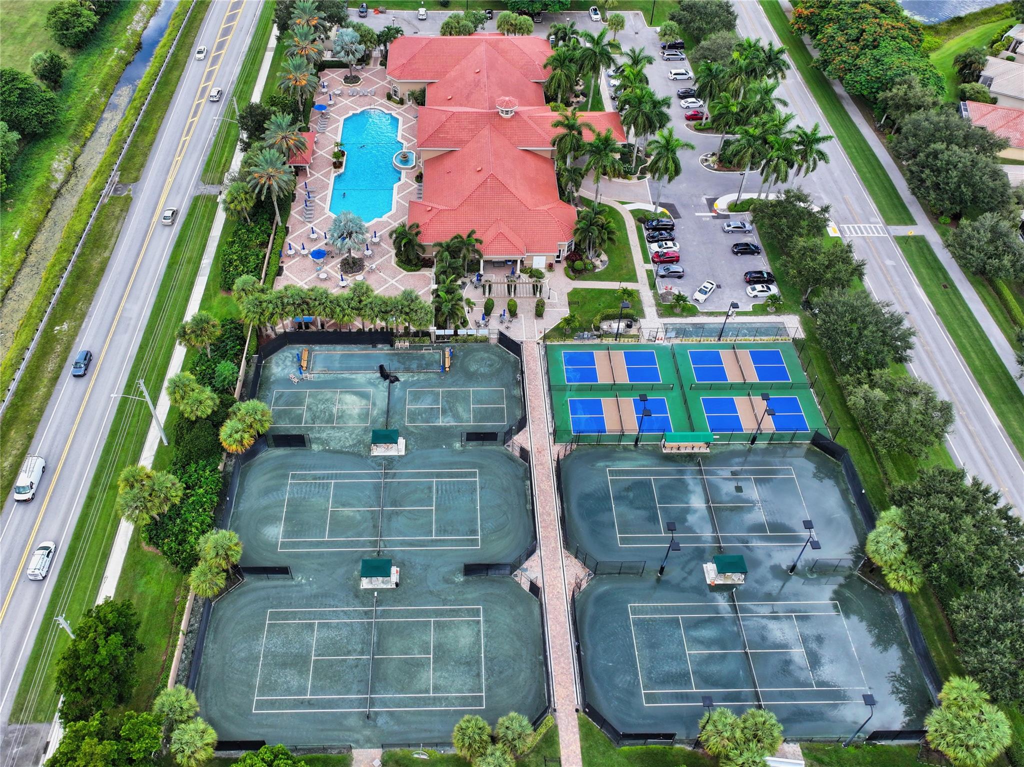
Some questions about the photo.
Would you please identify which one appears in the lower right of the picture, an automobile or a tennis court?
tennis court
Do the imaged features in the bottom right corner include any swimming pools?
No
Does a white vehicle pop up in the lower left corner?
Yes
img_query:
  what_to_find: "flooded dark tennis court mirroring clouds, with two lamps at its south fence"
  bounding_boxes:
[576,571,928,741]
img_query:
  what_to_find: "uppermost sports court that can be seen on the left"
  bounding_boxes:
[245,343,526,449]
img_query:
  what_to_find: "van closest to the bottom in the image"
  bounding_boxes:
[26,540,57,579]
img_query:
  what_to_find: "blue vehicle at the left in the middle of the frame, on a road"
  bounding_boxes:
[72,348,94,376]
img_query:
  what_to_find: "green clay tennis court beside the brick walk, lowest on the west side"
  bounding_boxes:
[188,576,550,750]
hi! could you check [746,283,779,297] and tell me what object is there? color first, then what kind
white car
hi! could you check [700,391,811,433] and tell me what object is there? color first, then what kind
blue sports court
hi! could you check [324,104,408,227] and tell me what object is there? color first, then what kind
blue swimming pool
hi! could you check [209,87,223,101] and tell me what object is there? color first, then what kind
white car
